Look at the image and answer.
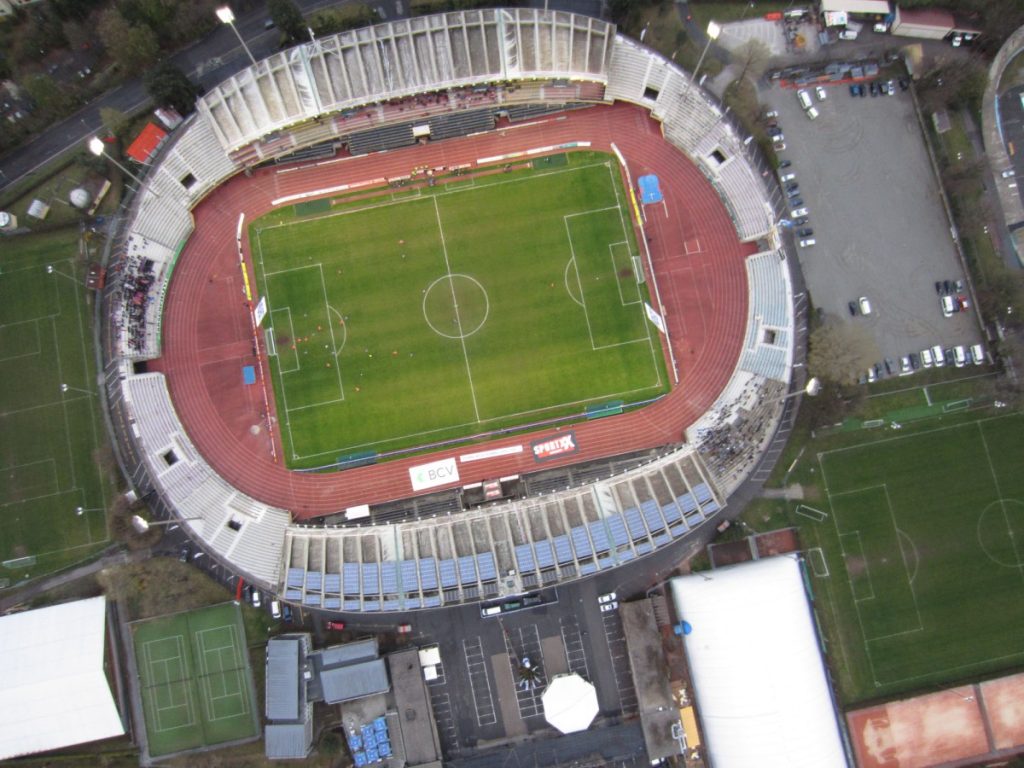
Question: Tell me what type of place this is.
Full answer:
The picture captures a sports ground.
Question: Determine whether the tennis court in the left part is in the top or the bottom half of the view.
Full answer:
It is in the bottom half that the tennis court in the left part appears.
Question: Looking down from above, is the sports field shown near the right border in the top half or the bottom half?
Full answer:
You can find the sports field shown near the right border in the bottom half.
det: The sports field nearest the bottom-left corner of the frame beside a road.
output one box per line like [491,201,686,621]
[0,239,120,590]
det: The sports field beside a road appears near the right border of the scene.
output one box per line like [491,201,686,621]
[795,407,1024,708]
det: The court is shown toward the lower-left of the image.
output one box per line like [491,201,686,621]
[131,601,260,757]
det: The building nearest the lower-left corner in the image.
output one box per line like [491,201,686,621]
[0,596,129,758]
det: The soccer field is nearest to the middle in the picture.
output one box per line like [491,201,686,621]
[247,150,672,472]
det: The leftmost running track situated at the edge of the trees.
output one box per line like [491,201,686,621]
[159,100,748,524]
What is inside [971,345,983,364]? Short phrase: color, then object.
white vehicle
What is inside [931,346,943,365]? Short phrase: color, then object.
white vehicle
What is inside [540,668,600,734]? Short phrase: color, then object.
white tent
